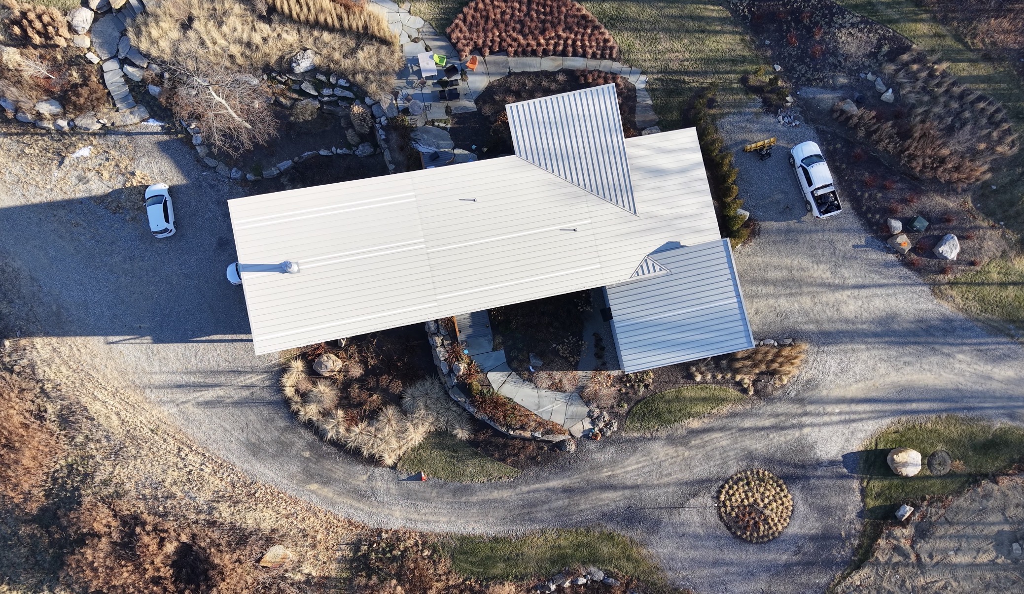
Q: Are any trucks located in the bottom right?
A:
No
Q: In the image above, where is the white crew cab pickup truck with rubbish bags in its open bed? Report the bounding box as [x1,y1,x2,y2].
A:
[789,143,845,225]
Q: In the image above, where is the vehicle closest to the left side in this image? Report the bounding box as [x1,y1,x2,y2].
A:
[144,184,179,237]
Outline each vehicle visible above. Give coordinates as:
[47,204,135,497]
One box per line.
[789,143,845,225]
[144,184,179,237]
[228,261,242,286]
